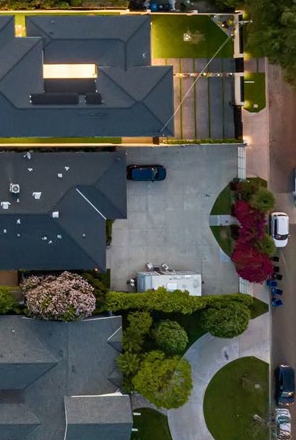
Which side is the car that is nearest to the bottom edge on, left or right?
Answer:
right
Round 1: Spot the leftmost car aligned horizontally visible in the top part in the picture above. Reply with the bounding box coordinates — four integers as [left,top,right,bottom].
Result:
[126,162,166,182]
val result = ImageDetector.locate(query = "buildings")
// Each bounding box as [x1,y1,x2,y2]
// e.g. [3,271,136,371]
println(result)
[0,311,141,440]
[0,14,174,140]
[0,151,127,271]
